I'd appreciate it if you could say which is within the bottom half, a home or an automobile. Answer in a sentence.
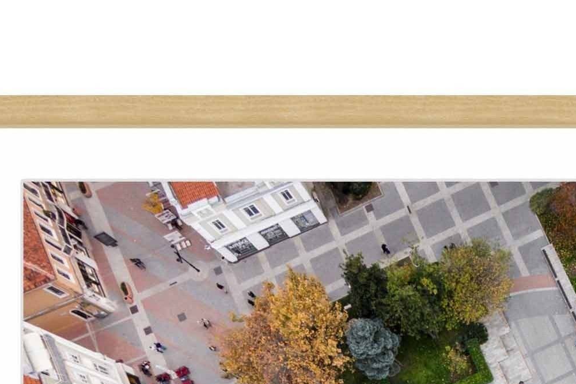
The feature located within the bottom half is a home.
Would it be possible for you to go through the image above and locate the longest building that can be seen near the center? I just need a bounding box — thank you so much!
[153,181,327,265]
